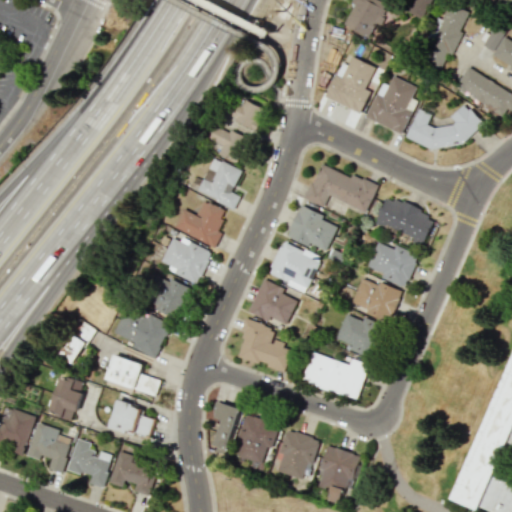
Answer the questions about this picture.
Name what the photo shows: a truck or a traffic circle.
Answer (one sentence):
This aerial view contains a truck.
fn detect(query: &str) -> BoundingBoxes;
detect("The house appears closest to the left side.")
[0,408,36,454]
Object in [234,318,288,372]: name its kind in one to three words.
house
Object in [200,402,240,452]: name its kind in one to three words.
house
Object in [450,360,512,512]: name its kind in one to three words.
building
